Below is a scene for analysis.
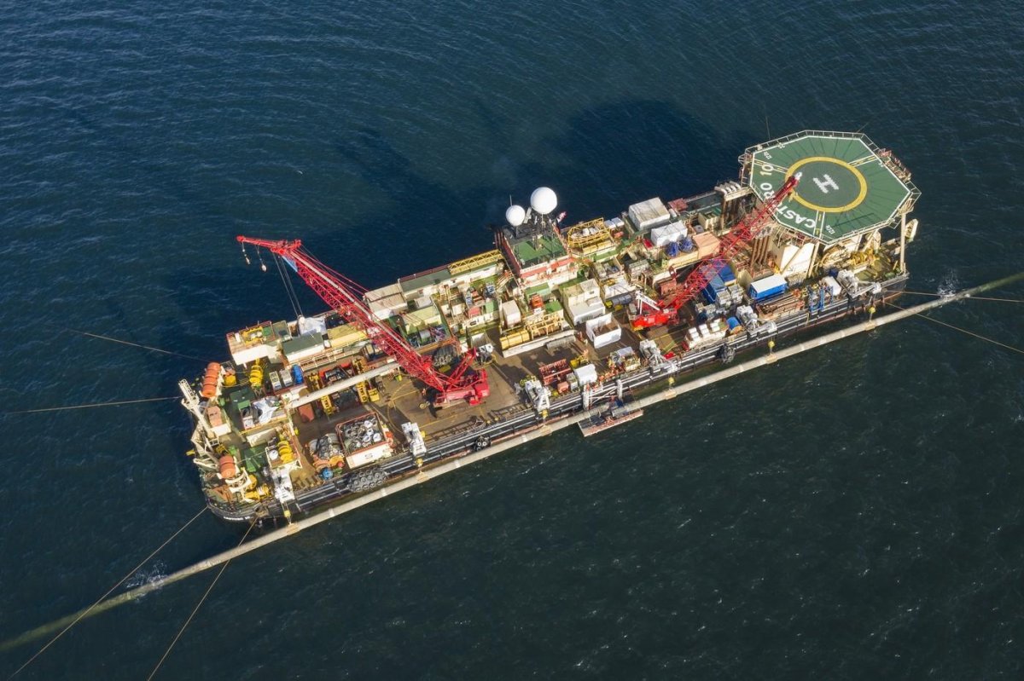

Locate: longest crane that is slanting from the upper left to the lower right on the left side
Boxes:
[236,235,492,416]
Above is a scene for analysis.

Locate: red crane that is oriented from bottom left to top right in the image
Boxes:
[626,174,801,338]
